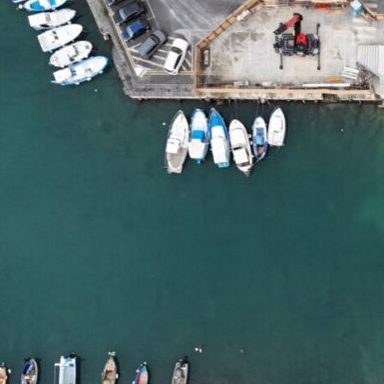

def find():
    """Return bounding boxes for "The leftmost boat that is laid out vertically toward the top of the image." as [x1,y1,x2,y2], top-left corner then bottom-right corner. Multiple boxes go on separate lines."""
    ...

[165,100,190,175]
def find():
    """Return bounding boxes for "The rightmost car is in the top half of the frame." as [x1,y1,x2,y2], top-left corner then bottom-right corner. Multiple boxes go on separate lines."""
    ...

[165,40,190,74]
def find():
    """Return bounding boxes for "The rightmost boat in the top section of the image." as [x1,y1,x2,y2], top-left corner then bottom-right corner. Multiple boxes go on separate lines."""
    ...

[268,100,288,147]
